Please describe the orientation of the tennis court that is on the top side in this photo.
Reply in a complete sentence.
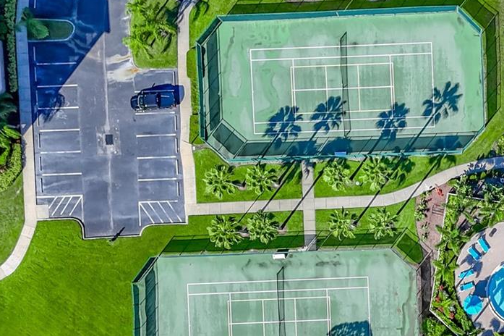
The tennis court that is on the top side runs from side to side in the image.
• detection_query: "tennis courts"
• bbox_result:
[137,248,420,336]
[201,10,486,163]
